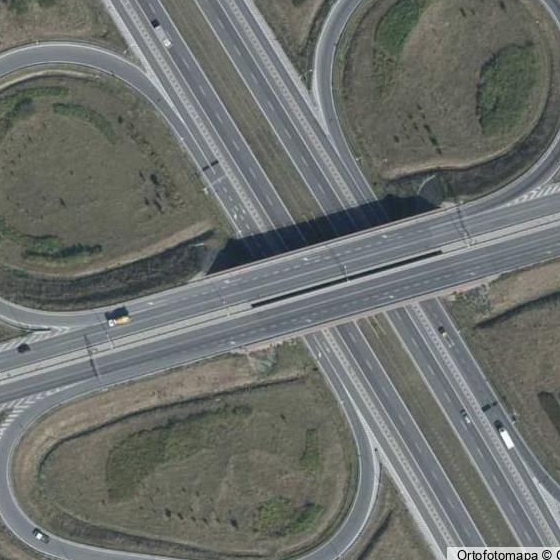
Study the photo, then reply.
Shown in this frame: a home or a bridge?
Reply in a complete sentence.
Visible in the photo is a bridge.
